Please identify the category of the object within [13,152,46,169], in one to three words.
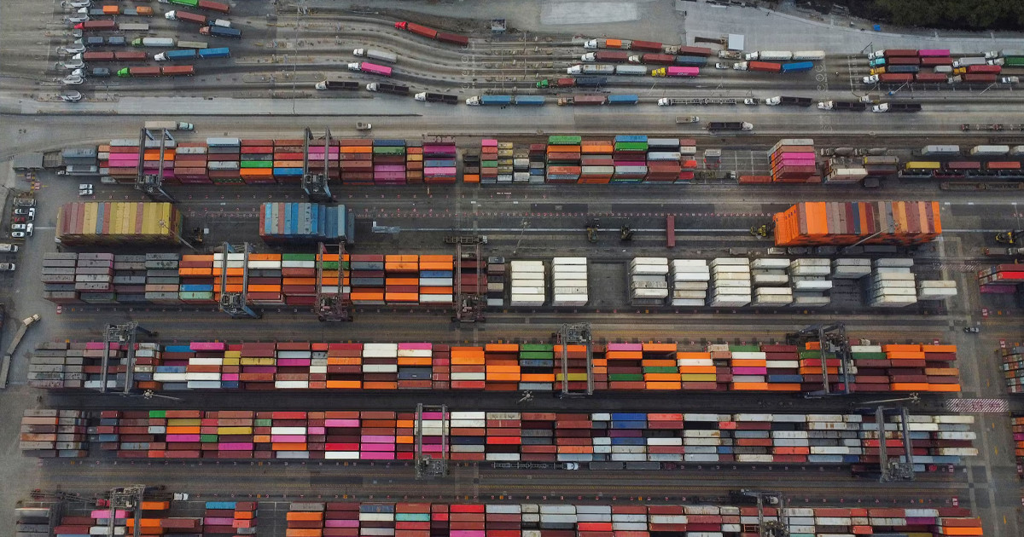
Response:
shed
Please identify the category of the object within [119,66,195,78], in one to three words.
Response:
vehicle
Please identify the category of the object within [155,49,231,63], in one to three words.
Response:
vehicle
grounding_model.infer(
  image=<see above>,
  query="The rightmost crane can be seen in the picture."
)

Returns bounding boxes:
[842,405,915,480]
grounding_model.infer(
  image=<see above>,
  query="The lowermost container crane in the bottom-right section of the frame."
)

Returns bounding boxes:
[729,485,787,537]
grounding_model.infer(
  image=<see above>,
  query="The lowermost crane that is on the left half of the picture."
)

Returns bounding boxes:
[107,481,171,537]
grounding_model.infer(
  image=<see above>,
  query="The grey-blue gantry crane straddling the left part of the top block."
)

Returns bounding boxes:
[134,129,188,206]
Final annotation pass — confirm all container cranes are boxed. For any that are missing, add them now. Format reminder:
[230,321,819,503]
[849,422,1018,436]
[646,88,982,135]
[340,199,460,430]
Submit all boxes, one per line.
[788,323,851,398]
[300,129,336,205]
[416,402,452,479]
[134,129,188,206]
[729,485,787,537]
[218,243,266,322]
[107,481,171,537]
[98,323,163,397]
[316,242,355,326]
[842,405,915,480]
[551,322,594,399]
